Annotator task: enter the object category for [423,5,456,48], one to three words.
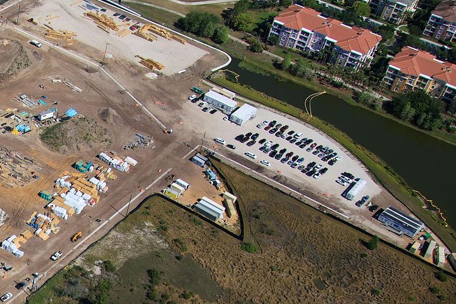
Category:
building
